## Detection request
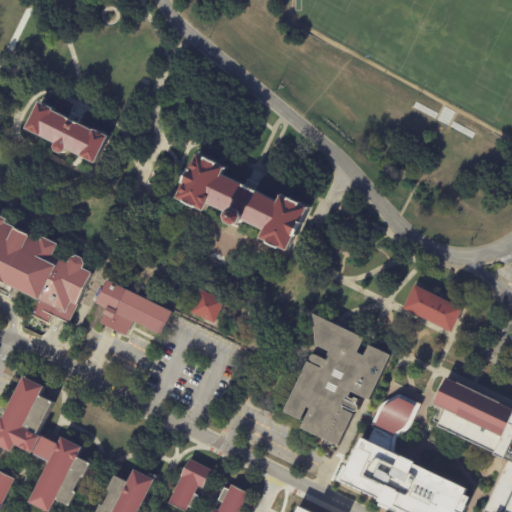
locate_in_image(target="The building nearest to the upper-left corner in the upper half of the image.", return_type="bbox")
[20,100,106,163]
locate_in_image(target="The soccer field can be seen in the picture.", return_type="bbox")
[298,0,512,128]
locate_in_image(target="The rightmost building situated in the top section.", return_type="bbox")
[178,154,307,250]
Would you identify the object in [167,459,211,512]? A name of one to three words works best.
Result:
house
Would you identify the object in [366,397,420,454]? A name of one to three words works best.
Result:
building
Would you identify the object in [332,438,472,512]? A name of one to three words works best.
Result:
building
